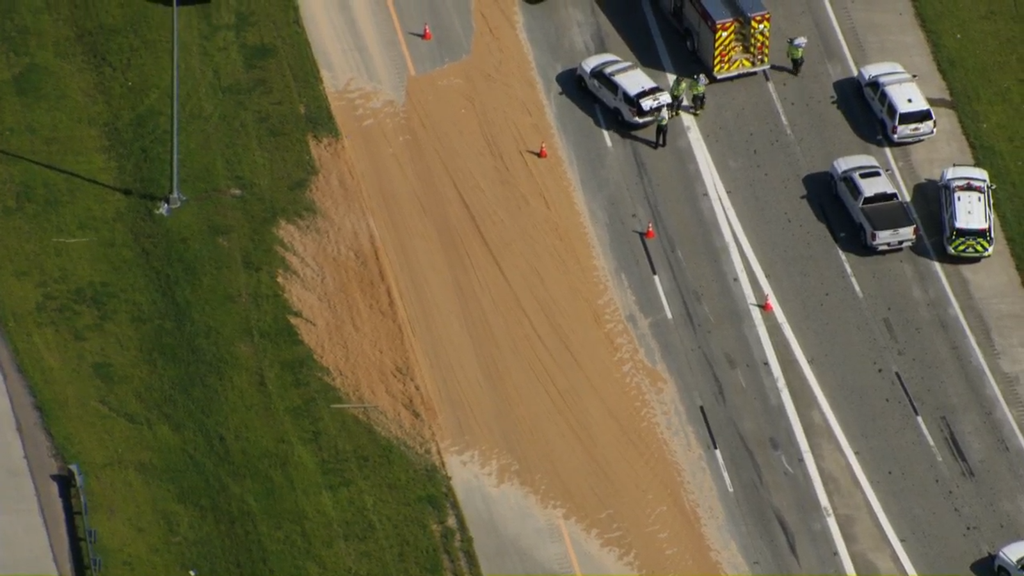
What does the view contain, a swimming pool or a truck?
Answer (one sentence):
Of the two, only a truck appears.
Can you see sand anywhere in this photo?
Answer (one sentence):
Yes, the picture does contain sand.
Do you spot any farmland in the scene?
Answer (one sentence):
No, there's no farmland in this view.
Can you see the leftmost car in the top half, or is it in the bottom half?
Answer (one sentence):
The top half of the photo is where the leftmost car is.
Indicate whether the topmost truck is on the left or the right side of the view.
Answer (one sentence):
The topmost truck sits on the right side.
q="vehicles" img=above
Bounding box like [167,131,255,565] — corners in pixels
[664,0,769,78]
[939,166,999,257]
[860,63,936,145]
[830,154,916,253]
[996,543,1024,576]
[577,49,675,126]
